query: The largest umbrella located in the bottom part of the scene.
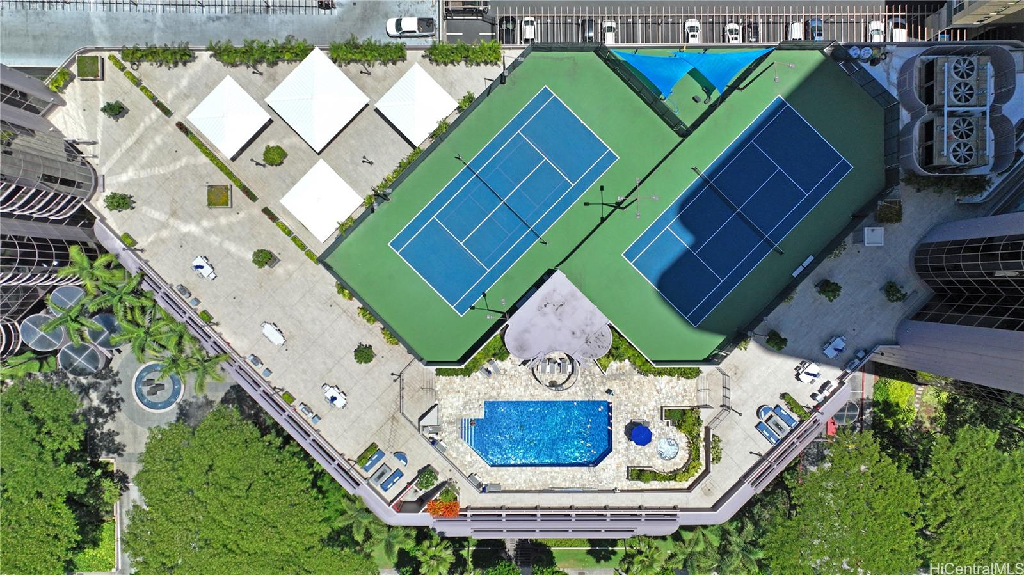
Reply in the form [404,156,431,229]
[630,424,652,446]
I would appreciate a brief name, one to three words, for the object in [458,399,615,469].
swimming pool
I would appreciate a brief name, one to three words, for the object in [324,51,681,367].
tennis court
